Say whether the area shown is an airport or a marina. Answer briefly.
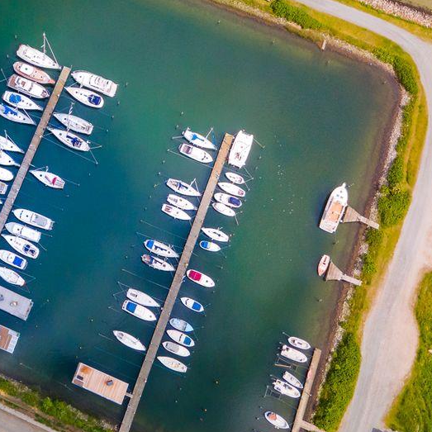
marina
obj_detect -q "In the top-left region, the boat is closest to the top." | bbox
[9,33,60,69]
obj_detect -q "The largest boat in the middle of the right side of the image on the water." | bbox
[319,181,348,235]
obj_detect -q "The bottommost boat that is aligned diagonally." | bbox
[262,409,289,430]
